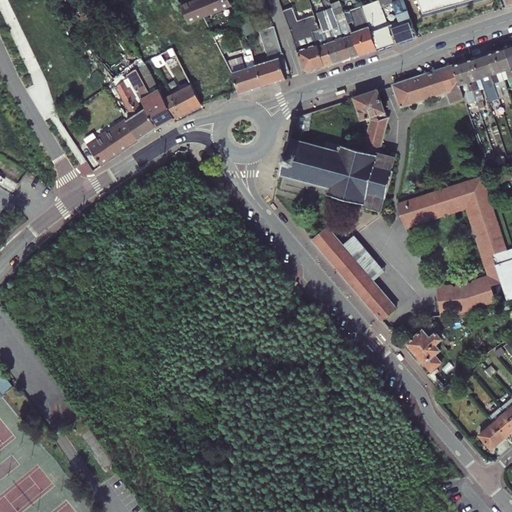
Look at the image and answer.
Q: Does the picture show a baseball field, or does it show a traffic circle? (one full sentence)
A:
Visible in the photo is a traffic circle.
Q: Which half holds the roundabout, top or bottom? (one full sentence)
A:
The roundabout sits in the top half of the picture.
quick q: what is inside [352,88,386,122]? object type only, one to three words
house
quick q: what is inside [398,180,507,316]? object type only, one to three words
building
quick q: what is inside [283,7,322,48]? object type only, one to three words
building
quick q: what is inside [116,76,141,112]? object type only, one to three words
house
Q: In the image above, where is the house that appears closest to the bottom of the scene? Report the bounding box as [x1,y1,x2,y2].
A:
[480,408,512,454]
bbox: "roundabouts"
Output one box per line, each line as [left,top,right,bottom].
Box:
[212,100,276,164]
